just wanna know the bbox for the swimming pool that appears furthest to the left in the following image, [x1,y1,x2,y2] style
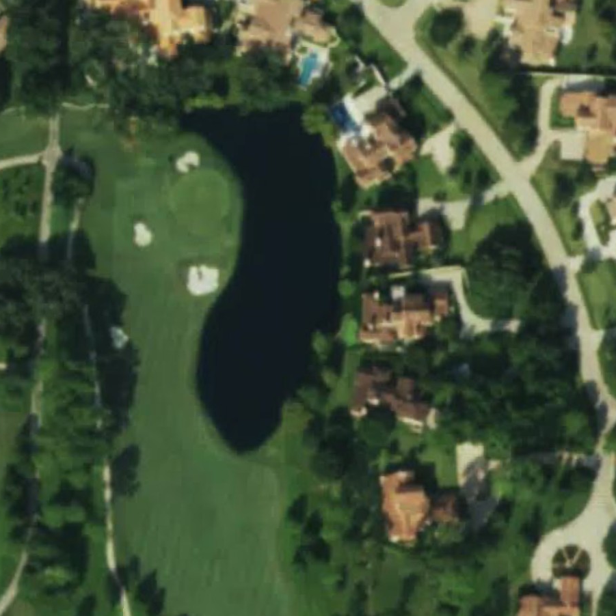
[298,44,330,89]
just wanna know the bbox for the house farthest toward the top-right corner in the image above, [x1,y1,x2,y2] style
[506,0,579,64]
